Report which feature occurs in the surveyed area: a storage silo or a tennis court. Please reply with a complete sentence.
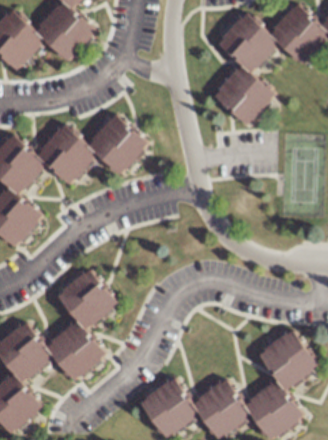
It is a tennis court that can be seen here.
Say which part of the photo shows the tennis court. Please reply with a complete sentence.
The tennis court sits in the right section of the image.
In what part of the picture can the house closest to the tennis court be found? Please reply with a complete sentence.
Look in the top right portion of the view to spot the house closest to the tennis court.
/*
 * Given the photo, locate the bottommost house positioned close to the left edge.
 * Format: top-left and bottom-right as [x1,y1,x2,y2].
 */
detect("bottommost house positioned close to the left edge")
[0,374,40,432]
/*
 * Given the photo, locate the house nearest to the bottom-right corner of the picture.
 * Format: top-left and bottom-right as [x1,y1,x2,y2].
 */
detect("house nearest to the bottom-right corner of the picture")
[246,382,302,439]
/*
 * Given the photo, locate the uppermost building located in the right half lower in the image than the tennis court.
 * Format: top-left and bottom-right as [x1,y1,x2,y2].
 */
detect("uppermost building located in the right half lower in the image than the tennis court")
[260,331,317,389]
